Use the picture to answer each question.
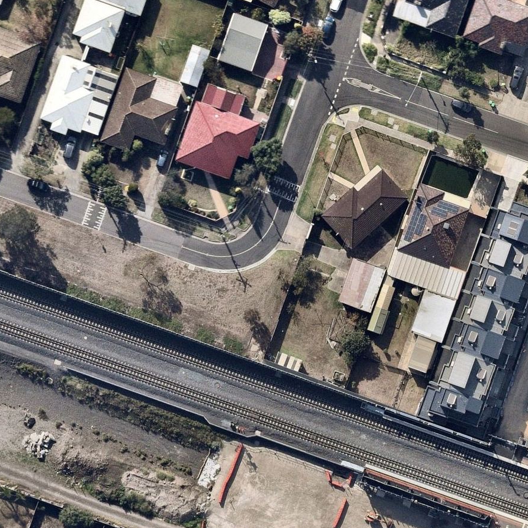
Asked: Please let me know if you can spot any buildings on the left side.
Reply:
Yes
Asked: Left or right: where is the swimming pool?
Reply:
right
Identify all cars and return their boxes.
[26,177,52,193]
[323,13,336,39]
[156,147,167,169]
[509,65,524,90]
[328,0,342,15]
[64,136,76,160]
[450,98,475,113]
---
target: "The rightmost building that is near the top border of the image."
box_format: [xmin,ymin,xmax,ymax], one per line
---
[463,0,528,58]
